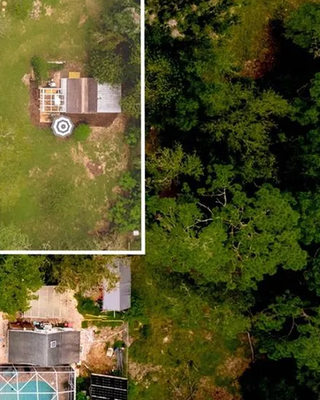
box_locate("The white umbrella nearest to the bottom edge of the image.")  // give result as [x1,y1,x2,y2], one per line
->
[50,116,71,137]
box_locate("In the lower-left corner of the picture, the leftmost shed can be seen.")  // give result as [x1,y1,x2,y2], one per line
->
[7,325,80,370]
